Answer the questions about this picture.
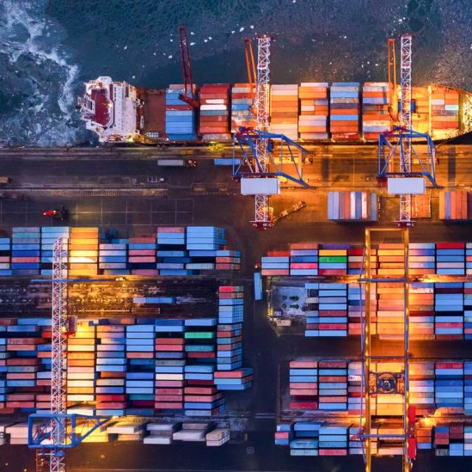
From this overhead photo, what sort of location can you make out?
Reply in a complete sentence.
It's a port.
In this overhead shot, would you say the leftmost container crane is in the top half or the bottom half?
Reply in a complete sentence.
The bottom half of the photo is where the leftmost container crane is.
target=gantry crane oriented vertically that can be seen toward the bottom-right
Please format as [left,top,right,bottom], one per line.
[356,228,424,472]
